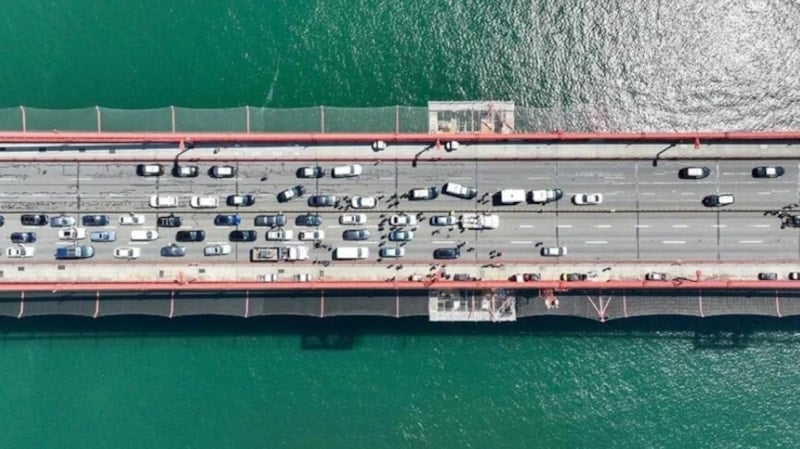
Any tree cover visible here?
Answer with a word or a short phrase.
No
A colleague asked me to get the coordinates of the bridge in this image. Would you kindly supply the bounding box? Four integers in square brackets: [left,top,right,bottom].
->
[0,106,800,322]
